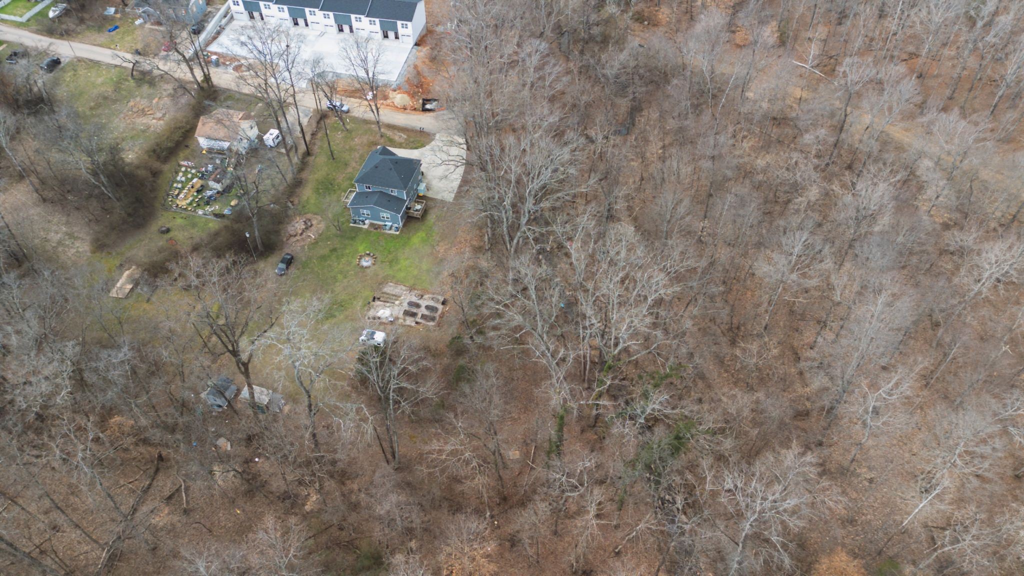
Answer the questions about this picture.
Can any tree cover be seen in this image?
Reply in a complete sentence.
Yes, some tree cover is visible.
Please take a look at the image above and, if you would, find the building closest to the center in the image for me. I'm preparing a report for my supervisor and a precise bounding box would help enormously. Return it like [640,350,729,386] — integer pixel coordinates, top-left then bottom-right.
[346,146,425,227]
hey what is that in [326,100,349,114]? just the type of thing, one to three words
car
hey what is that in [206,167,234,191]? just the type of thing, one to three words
shed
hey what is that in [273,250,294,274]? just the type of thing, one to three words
car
